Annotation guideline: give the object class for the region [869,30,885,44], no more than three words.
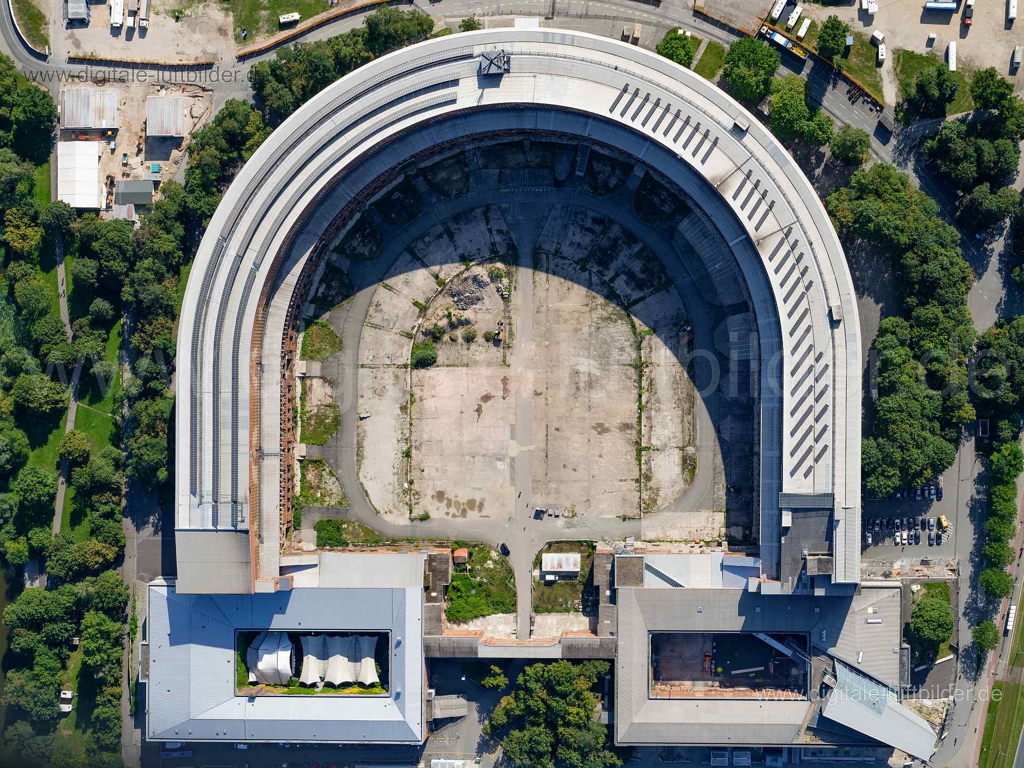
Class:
camper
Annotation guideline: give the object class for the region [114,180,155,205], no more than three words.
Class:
shed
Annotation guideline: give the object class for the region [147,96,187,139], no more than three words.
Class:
building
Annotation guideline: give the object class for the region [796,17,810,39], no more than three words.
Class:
camper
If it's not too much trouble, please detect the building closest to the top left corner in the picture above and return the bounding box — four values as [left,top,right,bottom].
[61,88,122,130]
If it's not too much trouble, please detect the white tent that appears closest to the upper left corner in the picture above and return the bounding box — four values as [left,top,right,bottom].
[57,140,102,209]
